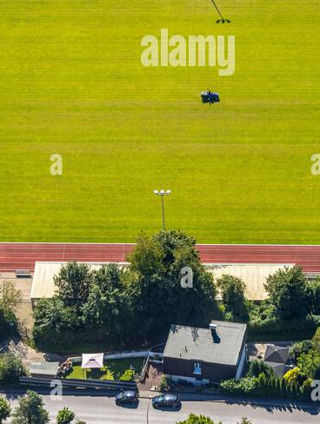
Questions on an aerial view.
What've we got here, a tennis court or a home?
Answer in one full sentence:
This aerial view contains a home.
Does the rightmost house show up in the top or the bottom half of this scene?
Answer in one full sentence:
It is in the bottom half that the rightmost house appears.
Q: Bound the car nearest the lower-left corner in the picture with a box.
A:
[113,389,140,403]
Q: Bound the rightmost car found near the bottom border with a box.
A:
[151,390,181,405]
